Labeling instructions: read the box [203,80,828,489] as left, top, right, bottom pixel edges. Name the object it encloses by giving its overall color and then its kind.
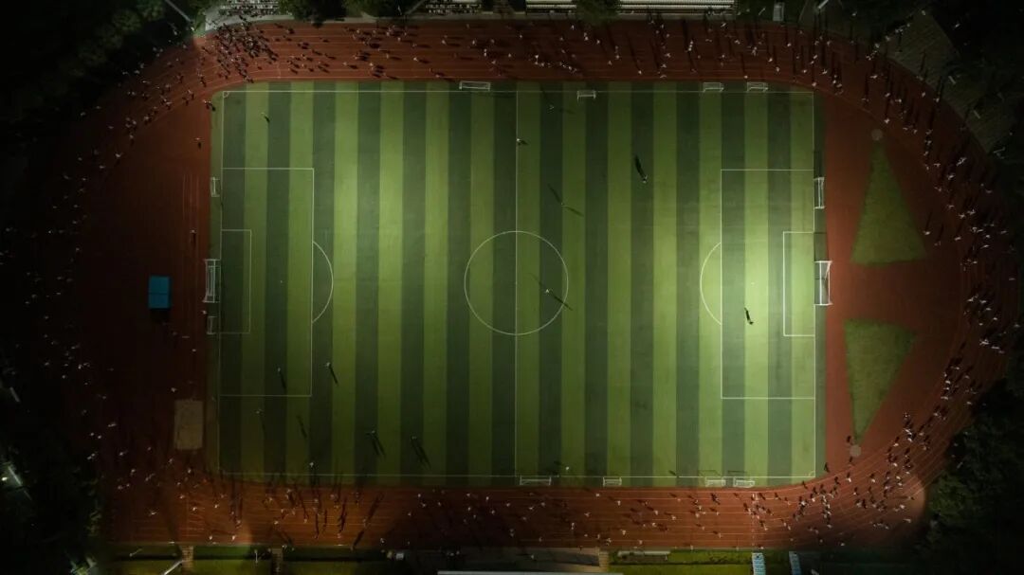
green sports field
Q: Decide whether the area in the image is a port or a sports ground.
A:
sports ground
